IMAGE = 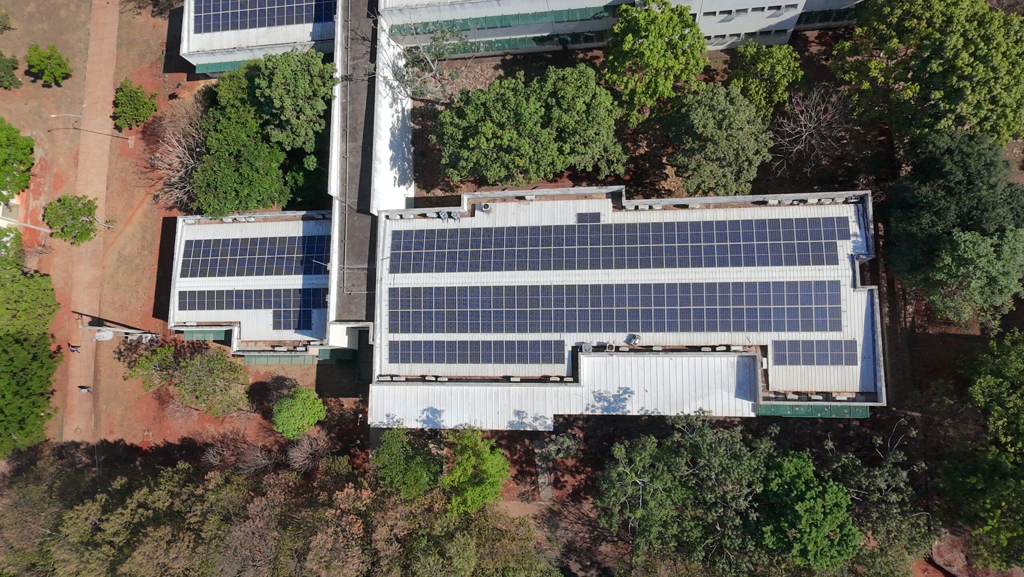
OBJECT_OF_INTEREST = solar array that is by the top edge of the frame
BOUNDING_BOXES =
[192,0,337,34]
